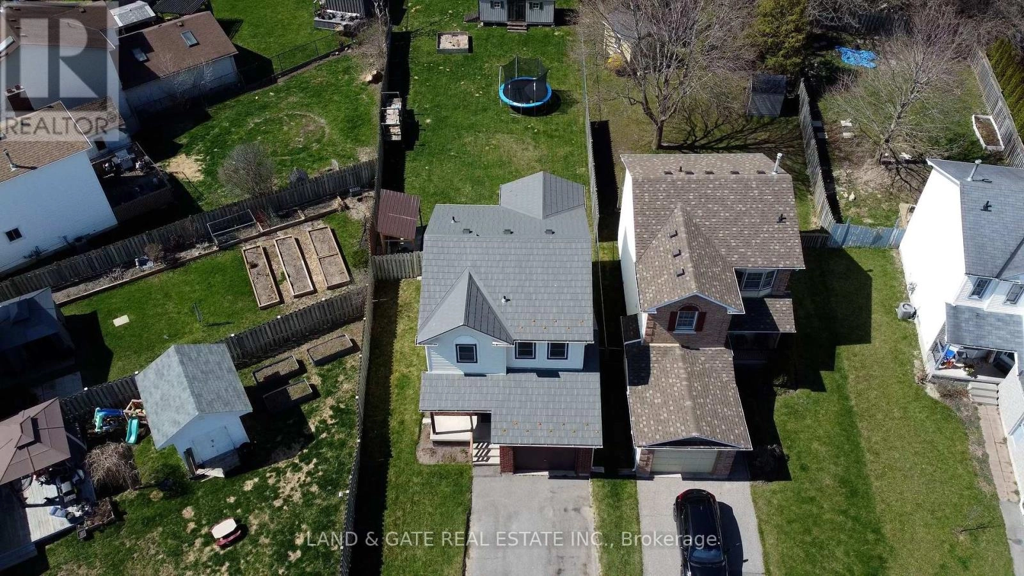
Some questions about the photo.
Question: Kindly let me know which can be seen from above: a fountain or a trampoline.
trampoline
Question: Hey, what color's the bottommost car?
black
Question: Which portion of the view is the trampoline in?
top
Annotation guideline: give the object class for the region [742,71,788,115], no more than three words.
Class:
shed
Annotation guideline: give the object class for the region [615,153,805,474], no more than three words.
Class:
house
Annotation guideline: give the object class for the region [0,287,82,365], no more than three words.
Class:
gazebo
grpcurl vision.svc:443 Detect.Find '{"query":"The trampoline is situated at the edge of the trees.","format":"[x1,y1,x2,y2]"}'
[499,52,552,117]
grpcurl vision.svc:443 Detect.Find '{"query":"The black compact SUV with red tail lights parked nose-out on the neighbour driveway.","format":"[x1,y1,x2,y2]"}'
[672,494,735,576]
